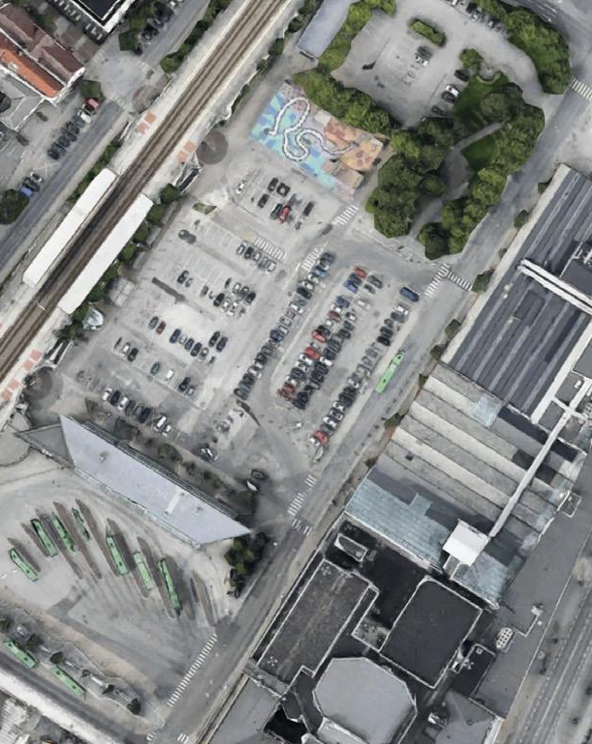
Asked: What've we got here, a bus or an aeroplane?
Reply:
bus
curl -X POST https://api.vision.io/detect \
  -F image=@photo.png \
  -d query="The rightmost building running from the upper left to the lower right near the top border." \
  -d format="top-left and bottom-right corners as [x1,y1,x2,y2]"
[48,0,112,46]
